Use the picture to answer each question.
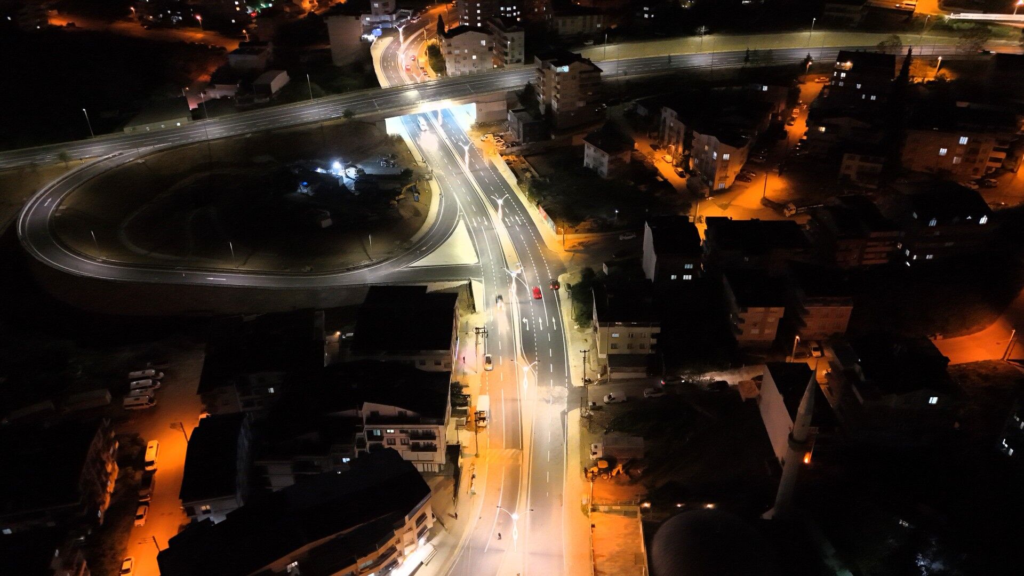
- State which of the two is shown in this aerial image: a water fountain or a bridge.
bridge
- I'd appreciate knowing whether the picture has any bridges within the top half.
Yes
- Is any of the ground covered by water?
No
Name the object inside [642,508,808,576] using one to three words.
building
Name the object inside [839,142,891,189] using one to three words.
house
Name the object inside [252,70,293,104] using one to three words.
shed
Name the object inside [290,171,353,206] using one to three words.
building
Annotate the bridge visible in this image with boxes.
[374,90,514,130]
